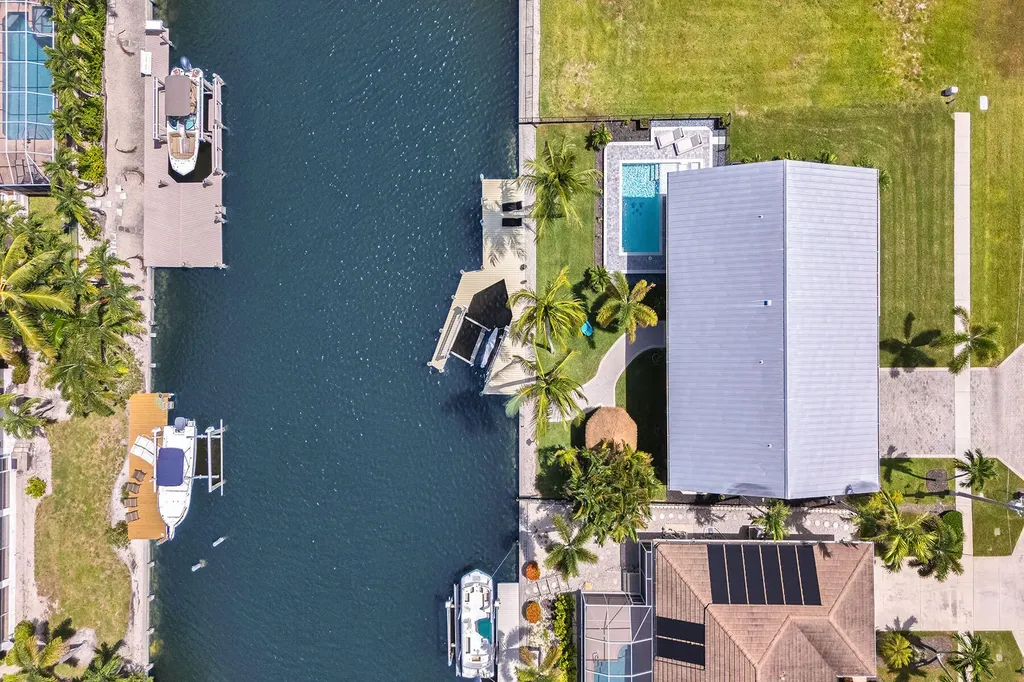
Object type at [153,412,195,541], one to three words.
boat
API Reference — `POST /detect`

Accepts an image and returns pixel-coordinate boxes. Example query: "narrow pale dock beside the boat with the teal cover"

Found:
[497,583,519,682]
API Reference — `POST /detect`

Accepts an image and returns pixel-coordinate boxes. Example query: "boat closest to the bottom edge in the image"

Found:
[459,570,494,682]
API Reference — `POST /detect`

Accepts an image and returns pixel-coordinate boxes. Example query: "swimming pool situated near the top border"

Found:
[4,12,51,139]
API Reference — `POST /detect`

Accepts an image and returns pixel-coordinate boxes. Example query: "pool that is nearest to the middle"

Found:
[619,160,705,255]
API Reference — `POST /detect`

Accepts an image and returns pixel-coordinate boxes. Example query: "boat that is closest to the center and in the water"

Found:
[481,328,499,367]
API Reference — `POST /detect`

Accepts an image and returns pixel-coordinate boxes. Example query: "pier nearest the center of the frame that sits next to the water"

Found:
[426,171,524,397]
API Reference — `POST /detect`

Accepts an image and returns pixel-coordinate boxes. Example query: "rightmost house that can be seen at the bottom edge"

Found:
[654,539,875,682]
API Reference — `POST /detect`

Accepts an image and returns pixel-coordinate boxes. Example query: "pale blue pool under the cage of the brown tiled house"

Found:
[593,645,630,682]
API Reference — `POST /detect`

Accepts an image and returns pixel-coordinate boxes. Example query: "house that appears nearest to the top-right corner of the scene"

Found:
[666,159,880,499]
